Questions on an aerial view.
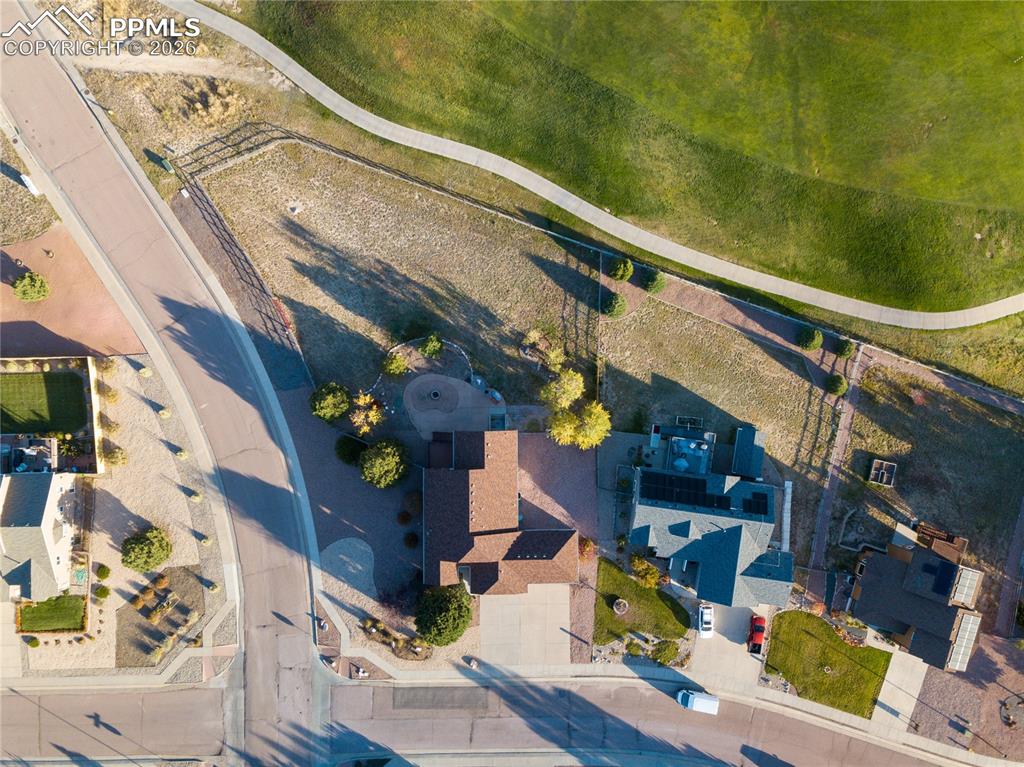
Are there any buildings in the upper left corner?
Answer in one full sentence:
No, no building can be made out in the upper left corner.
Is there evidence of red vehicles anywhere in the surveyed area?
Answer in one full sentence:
Yes, this view includes a red vehicle.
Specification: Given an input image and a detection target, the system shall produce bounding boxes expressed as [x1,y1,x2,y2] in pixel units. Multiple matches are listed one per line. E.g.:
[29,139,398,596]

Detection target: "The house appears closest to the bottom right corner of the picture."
[837,521,976,669]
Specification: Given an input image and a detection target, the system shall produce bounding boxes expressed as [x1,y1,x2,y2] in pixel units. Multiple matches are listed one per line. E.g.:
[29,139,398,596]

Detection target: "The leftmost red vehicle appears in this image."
[746,616,768,658]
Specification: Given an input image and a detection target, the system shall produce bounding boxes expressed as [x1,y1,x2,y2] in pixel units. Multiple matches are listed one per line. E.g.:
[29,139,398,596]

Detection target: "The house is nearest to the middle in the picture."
[423,429,578,594]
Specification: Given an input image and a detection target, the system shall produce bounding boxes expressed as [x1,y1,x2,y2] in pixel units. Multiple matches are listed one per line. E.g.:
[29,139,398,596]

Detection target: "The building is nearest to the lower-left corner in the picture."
[0,458,74,599]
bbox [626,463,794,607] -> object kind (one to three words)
house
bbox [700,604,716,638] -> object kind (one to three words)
car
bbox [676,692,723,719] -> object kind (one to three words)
vehicle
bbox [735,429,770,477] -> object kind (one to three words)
shed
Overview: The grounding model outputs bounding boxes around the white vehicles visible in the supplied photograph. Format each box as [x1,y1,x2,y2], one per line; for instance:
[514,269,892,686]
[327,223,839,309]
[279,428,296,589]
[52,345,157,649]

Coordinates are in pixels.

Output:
[700,604,716,638]
[676,692,723,719]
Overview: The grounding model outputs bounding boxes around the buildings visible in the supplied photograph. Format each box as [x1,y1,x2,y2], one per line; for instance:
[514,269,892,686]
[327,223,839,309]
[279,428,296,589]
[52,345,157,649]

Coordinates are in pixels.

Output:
[626,463,794,607]
[735,429,770,477]
[837,521,976,669]
[423,429,578,594]
[0,458,74,599]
